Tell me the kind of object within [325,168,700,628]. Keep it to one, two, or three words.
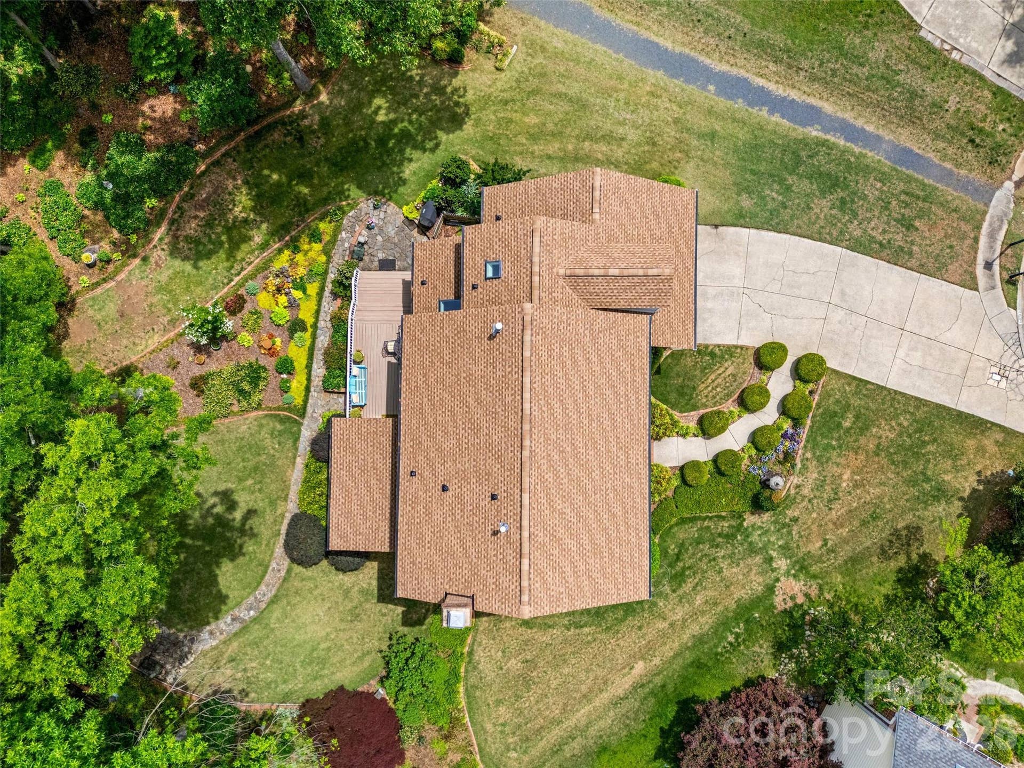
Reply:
house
